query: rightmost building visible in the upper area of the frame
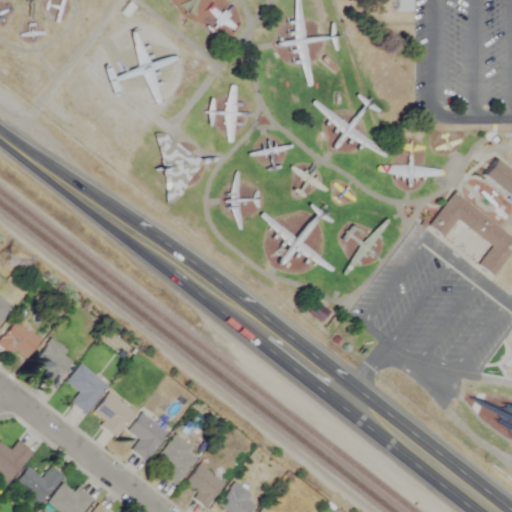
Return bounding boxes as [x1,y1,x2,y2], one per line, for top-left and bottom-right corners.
[482,156,512,192]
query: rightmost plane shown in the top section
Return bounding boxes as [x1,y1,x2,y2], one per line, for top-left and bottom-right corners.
[435,132,464,150]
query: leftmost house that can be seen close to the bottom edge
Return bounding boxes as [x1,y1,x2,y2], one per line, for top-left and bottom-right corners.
[0,441,33,488]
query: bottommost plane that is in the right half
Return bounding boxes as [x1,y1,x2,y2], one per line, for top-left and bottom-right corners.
[470,397,512,435]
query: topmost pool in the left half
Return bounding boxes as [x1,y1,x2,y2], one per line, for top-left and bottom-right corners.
[168,401,182,418]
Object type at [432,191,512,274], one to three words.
building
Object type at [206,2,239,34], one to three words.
airplane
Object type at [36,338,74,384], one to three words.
house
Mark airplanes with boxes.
[260,203,336,272]
[46,0,66,22]
[470,397,512,435]
[156,132,220,204]
[225,170,262,230]
[278,0,342,86]
[20,21,46,39]
[377,140,446,188]
[0,6,10,24]
[104,30,178,104]
[204,84,256,142]
[435,132,464,150]
[292,166,330,198]
[343,218,392,276]
[333,182,358,204]
[249,140,294,172]
[206,2,239,34]
[314,92,388,156]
